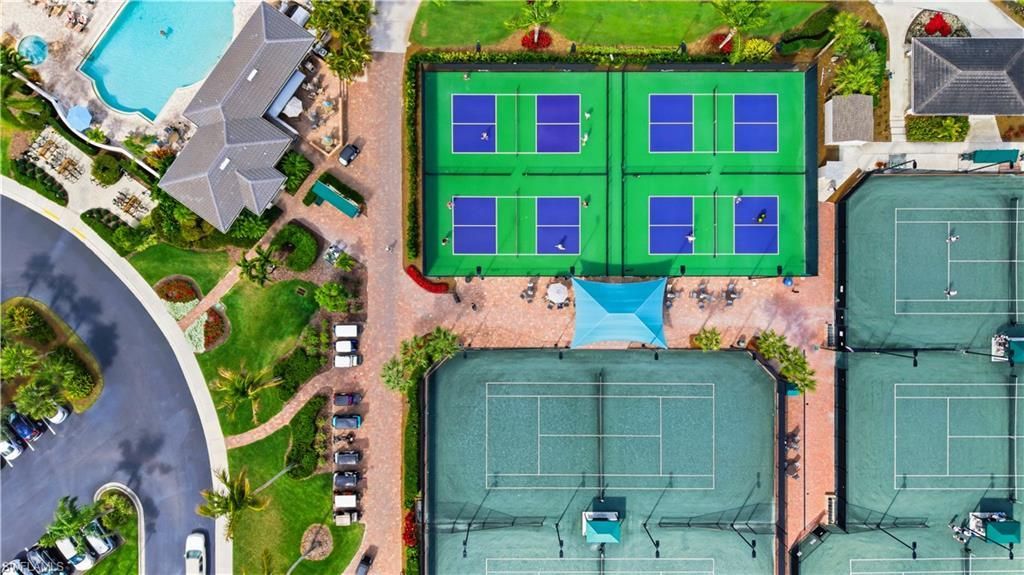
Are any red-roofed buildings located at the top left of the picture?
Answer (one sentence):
No, at the top left of the picture there is no red-roofed building.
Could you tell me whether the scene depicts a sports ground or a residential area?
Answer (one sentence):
The picture captures a sports ground.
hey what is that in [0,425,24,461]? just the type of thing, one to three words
car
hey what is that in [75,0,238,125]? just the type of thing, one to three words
swimming pool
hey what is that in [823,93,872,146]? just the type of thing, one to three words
shed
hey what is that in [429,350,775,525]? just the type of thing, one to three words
tennis court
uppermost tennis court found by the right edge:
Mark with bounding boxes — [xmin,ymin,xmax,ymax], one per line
[838,175,1024,349]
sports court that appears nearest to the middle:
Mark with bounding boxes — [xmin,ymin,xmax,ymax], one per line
[425,174,615,275]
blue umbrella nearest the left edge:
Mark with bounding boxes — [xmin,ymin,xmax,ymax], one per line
[68,106,97,130]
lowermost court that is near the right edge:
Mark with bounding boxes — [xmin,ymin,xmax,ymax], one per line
[792,525,1024,575]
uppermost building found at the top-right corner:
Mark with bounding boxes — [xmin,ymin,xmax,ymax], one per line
[895,37,1024,117]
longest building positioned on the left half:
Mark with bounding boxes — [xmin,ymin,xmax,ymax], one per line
[158,1,315,234]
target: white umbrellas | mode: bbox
[547,282,569,304]
[284,97,304,118]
